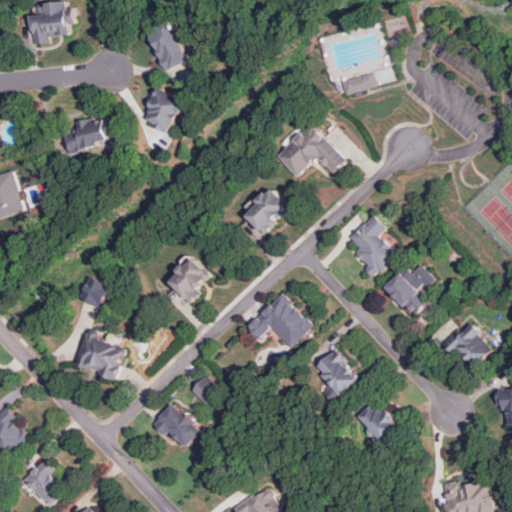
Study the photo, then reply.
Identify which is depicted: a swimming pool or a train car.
swimming pool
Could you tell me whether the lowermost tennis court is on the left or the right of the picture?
right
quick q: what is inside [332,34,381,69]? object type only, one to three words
swimming pool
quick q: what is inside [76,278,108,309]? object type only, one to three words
building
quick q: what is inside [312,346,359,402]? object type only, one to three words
house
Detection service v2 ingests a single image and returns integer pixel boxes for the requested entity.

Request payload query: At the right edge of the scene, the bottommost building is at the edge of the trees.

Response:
[441,478,496,512]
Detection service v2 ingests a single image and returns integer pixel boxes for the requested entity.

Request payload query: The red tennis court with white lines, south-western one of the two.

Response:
[481,198,512,242]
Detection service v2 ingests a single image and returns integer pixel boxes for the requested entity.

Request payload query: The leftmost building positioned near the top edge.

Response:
[26,0,73,47]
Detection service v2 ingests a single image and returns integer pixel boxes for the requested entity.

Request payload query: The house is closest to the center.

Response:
[242,189,282,236]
